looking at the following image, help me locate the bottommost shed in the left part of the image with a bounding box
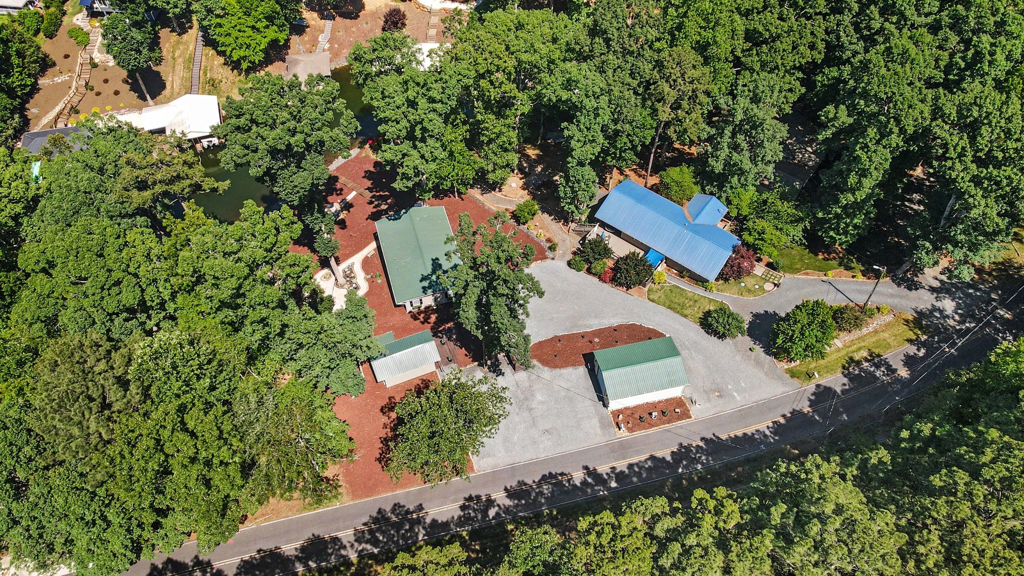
[370,330,441,388]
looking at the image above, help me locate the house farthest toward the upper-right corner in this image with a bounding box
[595,179,741,286]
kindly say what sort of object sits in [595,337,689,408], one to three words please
building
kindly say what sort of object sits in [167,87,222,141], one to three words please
building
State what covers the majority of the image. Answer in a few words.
trees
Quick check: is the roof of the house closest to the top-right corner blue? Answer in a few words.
Yes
